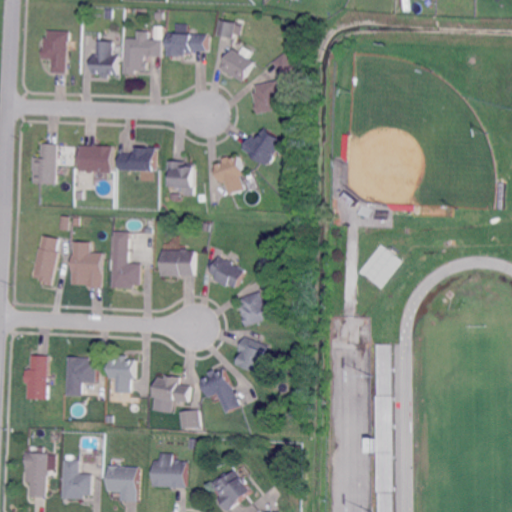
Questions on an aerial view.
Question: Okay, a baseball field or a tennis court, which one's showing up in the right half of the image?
baseball field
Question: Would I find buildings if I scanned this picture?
Yes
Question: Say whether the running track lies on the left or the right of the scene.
right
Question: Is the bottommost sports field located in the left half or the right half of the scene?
right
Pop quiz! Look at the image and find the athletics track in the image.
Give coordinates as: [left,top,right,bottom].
[400,256,512,512]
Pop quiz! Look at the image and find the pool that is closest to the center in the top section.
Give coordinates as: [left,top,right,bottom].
[242,190,260,206]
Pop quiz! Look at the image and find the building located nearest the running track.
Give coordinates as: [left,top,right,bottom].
[360,244,405,290]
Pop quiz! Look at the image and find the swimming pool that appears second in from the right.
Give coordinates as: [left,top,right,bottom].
[125,218,142,232]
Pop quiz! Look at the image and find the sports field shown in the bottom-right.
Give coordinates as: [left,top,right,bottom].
[413,269,512,512]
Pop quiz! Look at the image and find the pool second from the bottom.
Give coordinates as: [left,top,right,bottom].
[69,402,86,419]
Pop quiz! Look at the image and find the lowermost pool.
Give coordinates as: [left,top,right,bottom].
[82,436,98,450]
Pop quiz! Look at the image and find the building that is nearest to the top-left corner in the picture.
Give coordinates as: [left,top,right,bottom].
[40,30,70,73]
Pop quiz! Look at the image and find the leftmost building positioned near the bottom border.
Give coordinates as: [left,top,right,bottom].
[24,454,50,500]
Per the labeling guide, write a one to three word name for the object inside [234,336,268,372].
house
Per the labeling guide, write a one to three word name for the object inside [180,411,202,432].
building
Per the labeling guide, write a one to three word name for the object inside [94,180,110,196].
swimming pool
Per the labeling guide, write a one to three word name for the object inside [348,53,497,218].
baseball field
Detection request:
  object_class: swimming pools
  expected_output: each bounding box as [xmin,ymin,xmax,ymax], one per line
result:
[242,190,260,206]
[82,436,98,450]
[69,402,86,419]
[125,218,142,232]
[94,180,110,196]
